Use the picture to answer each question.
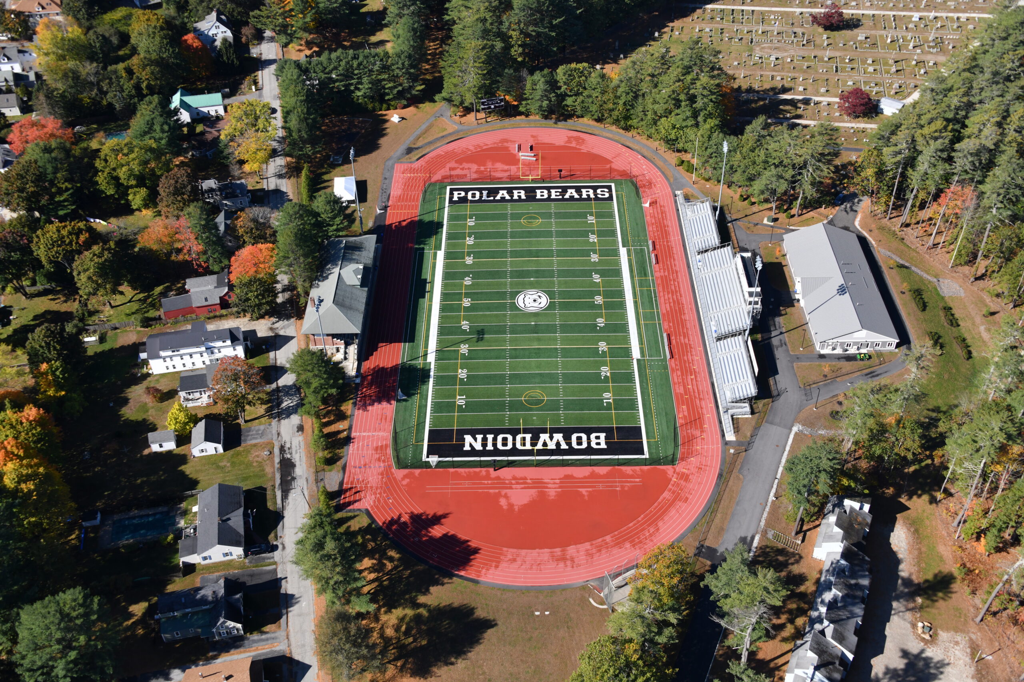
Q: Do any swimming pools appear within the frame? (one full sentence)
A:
Yes, this view includes a swimming pool.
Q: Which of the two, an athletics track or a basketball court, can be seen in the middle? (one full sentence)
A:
Visible in the middle is an athletics track.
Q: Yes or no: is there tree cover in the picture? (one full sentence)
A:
Yes, some tree cover is visible.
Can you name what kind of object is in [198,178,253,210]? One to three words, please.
house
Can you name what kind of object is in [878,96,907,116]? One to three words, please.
shed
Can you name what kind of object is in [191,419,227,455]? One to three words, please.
building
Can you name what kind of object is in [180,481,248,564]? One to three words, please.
house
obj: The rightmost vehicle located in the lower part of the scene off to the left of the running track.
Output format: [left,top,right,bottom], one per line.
[247,544,272,557]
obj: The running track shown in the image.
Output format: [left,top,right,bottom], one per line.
[332,126,728,592]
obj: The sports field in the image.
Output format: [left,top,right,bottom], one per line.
[391,178,680,469]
